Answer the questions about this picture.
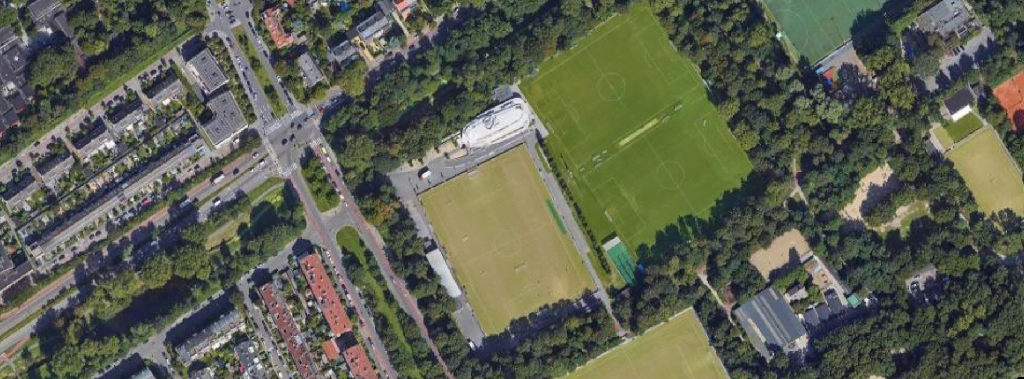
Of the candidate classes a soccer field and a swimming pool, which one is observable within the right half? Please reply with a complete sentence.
The feature located within the right half is a soccer field.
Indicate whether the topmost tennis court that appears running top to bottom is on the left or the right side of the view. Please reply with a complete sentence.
You can find the topmost tennis court that appears running top to bottom on the right side of the picture.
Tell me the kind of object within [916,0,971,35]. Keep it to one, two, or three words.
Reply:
building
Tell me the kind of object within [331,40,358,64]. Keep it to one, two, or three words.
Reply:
house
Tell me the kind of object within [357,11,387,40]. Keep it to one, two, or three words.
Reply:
house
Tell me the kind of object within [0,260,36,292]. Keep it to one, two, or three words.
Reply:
building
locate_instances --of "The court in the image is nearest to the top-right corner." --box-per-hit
[993,68,1024,136]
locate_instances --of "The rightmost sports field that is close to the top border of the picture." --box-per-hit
[771,0,914,66]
